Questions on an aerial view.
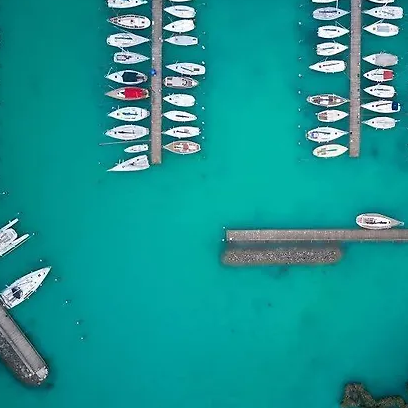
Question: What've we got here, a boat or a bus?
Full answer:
There is a boat in the scene.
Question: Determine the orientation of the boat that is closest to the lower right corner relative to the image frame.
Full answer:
In this picture, the boat that is closest to the lower right corner is oriented horizontally.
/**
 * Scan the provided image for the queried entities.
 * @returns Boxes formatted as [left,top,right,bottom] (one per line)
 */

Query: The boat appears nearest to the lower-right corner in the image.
[355,213,405,233]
